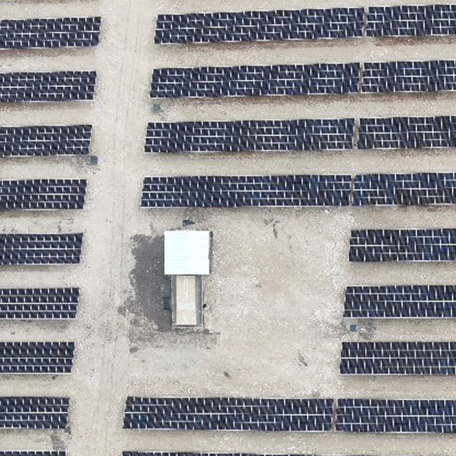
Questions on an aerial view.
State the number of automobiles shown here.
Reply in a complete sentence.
The photo contains no automobiles.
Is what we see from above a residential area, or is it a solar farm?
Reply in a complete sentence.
It's a solar farm.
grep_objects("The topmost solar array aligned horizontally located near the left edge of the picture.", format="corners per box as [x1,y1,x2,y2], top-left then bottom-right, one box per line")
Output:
[0,16,102,49]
